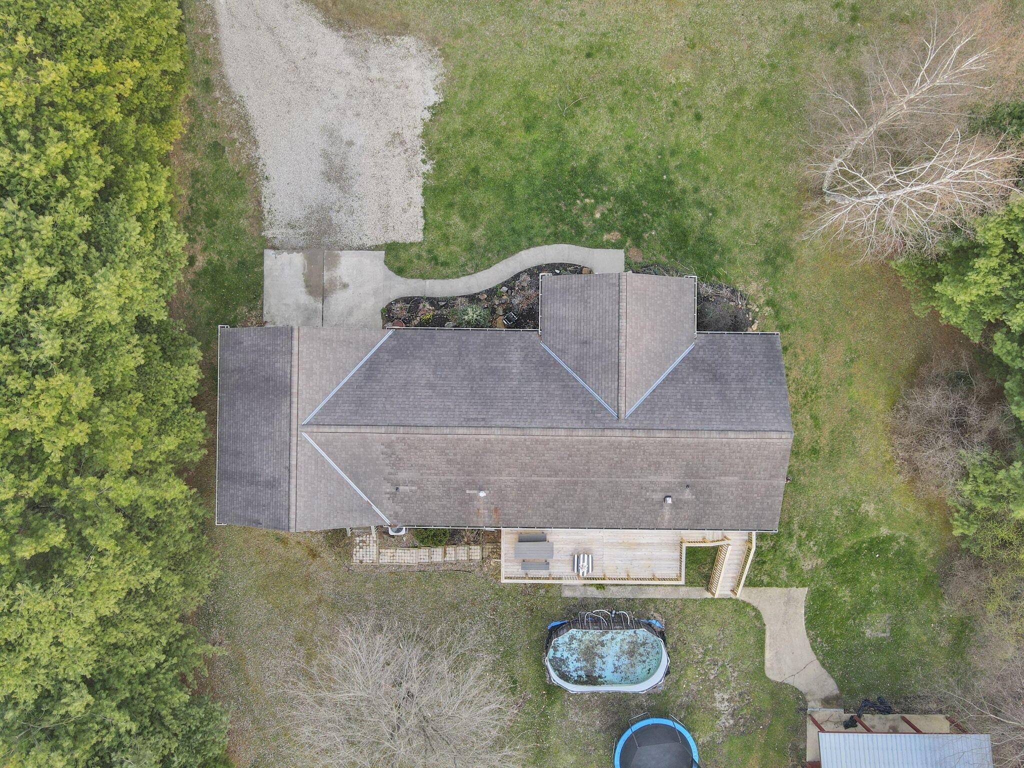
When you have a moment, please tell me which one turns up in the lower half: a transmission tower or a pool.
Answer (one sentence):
There is a pool in the lower half.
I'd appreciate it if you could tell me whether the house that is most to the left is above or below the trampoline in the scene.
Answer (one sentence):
From this view, the house that is most to the left can be seen above the trampoline.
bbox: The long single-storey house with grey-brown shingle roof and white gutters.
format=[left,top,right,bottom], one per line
[217,272,793,534]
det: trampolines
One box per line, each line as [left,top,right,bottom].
[613,712,705,768]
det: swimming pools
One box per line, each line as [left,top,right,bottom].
[541,612,671,694]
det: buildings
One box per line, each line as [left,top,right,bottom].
[217,272,793,534]
[806,714,997,768]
